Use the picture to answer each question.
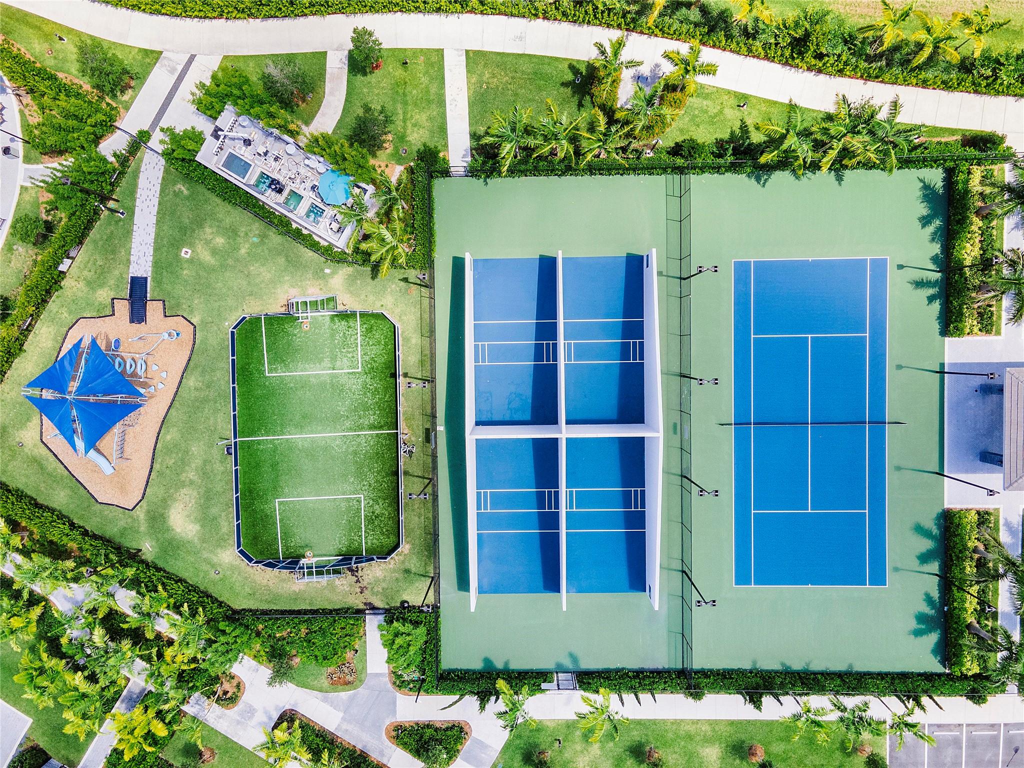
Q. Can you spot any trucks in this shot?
No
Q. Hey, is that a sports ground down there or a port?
sports ground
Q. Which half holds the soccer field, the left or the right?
left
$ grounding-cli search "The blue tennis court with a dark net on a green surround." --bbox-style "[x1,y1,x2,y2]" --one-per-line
[681,166,950,678]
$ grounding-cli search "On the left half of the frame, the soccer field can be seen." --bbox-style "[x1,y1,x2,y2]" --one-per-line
[229,294,404,584]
